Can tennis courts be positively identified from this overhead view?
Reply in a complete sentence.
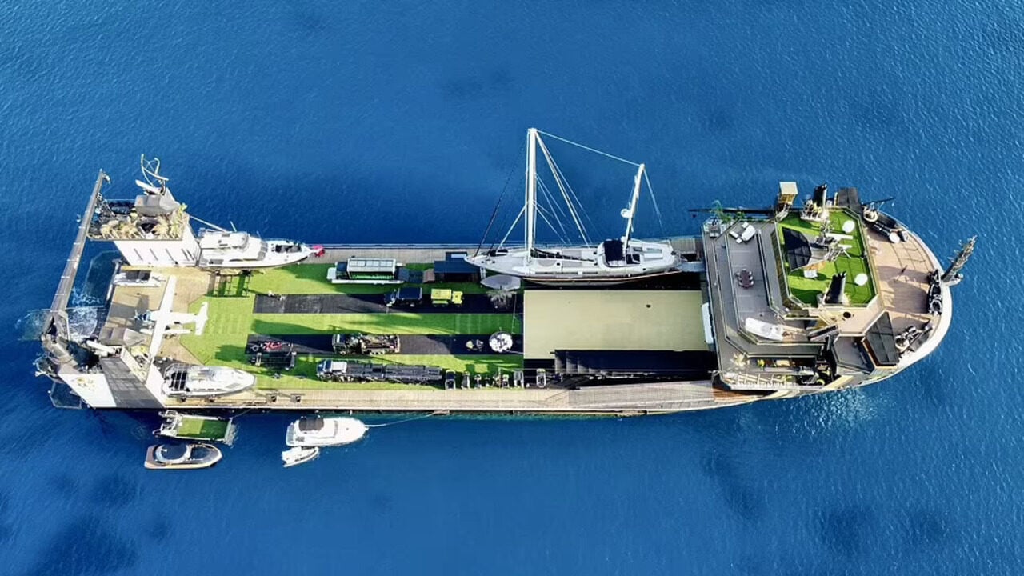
No, the picture doesn't show any tennis court.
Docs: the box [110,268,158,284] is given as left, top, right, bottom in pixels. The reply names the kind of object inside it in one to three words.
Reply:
boat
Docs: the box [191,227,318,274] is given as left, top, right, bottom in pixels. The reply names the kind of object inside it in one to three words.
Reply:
boat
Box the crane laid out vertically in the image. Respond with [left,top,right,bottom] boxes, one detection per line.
[30,169,113,381]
